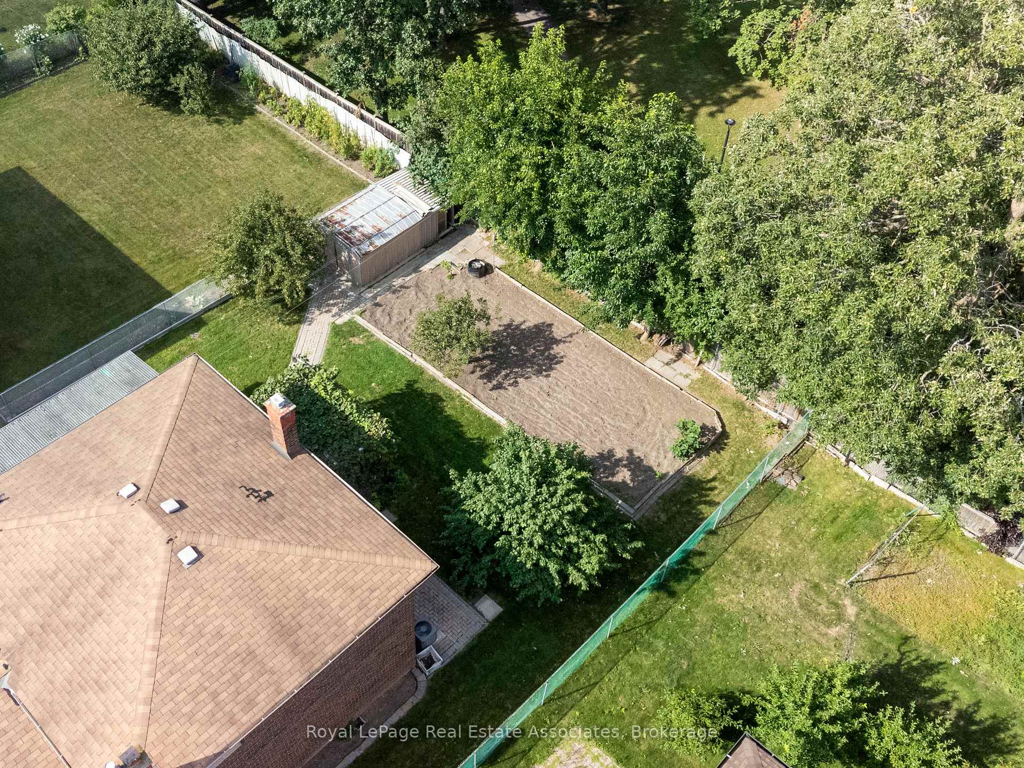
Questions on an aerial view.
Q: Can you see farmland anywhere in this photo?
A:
No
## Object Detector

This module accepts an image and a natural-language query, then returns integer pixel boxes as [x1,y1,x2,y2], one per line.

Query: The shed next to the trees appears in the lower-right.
[719,733,792,768]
